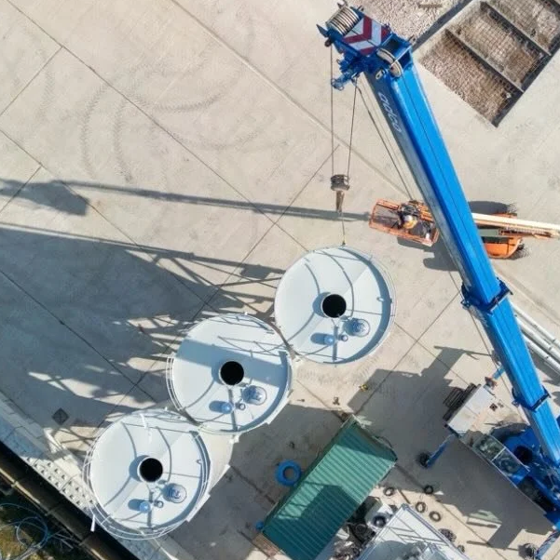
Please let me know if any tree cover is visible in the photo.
No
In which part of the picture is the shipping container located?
bottom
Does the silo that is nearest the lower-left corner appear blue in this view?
No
